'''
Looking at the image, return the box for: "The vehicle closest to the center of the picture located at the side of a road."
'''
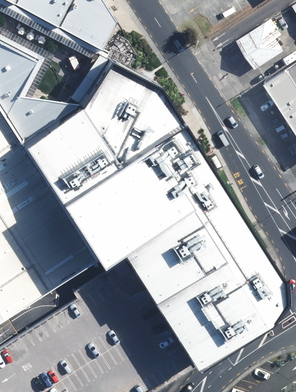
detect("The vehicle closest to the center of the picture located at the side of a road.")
[211,154,223,170]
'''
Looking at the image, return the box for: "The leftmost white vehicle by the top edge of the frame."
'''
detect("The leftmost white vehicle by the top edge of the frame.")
[216,6,236,20]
